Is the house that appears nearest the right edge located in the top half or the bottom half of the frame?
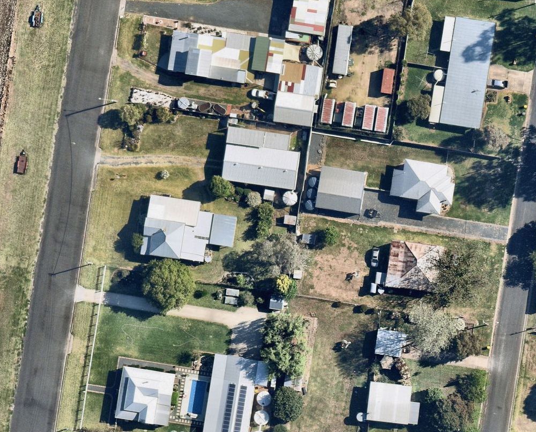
top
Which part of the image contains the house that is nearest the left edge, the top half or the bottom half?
bottom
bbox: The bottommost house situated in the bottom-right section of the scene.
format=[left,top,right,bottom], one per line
[366,382,420,425]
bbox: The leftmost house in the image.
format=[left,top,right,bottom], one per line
[115,367,175,426]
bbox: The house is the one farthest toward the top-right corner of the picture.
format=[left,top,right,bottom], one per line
[428,16,497,129]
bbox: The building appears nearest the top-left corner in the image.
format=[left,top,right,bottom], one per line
[168,30,253,83]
